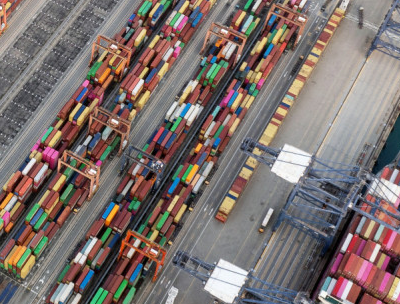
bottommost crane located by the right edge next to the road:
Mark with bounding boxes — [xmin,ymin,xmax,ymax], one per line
[244,135,400,262]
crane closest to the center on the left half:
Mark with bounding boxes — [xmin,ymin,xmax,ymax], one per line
[117,144,166,195]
